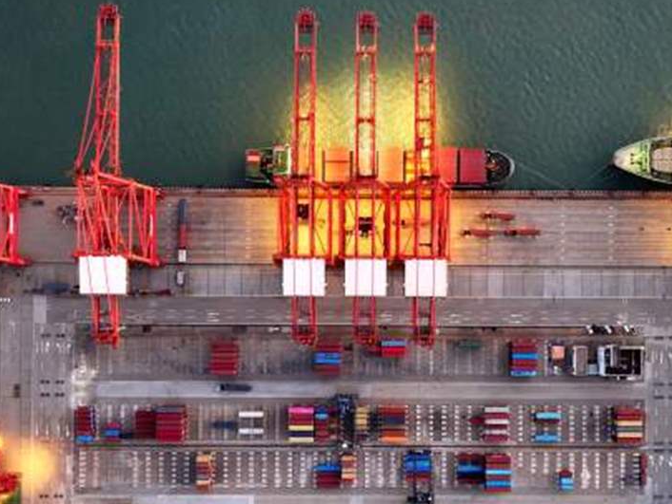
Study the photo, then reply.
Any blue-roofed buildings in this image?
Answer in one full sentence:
No, there is no blue-roofed building in the image.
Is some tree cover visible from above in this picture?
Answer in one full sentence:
No, the picture contains no tree cover.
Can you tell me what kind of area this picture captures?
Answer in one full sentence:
This looks like a port.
